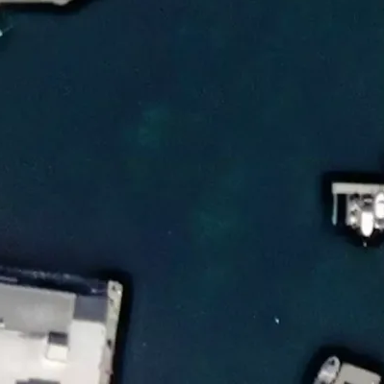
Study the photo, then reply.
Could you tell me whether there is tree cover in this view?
No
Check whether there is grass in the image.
No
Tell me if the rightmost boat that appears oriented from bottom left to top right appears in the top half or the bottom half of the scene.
bottom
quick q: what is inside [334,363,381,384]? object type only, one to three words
ship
